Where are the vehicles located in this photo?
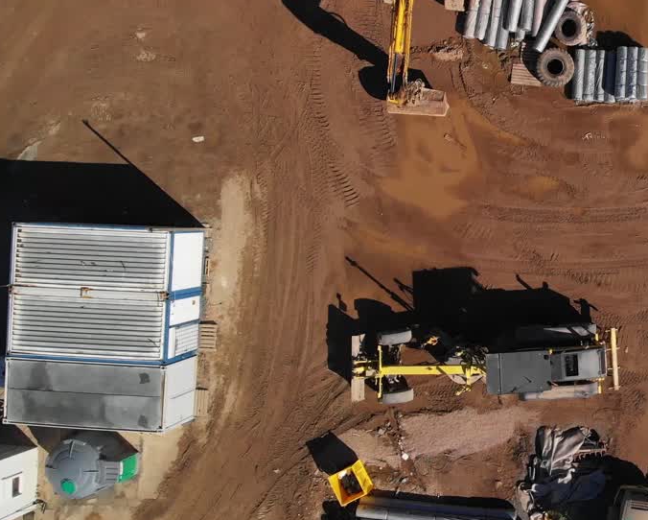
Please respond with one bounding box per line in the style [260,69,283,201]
[381,0,468,114]
[350,325,620,406]
[610,480,648,520]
